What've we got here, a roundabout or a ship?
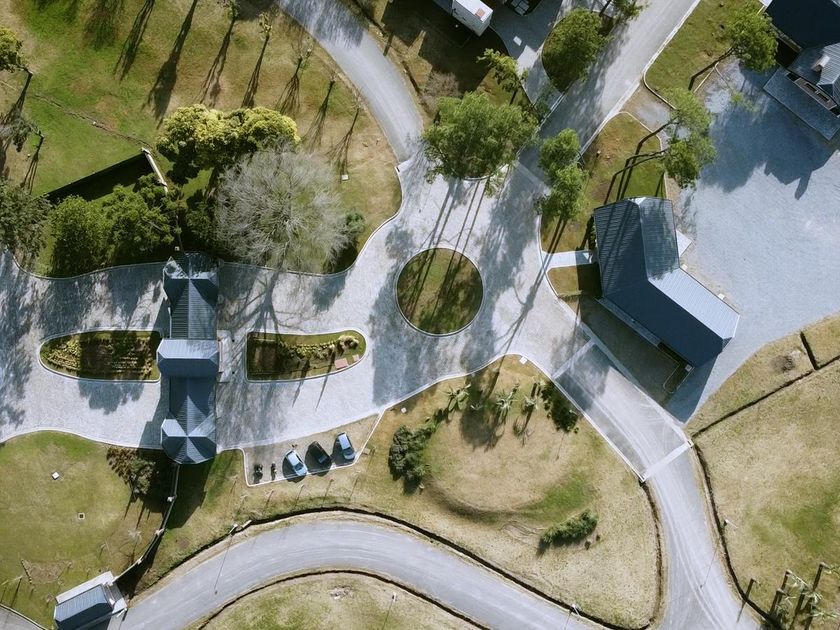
roundabout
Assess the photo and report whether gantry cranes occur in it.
No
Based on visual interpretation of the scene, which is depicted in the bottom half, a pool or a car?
car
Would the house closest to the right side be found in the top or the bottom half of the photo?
top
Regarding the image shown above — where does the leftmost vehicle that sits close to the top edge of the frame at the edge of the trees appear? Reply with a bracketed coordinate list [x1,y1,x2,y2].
[442,0,492,34]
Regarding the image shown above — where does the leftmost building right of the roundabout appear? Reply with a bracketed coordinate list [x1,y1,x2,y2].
[589,194,743,372]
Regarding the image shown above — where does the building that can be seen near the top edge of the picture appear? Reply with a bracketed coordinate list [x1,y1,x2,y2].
[754,0,840,141]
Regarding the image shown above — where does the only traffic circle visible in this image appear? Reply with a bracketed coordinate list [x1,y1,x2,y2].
[395,247,484,335]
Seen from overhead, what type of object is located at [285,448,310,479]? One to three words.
car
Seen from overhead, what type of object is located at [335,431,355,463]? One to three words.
car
